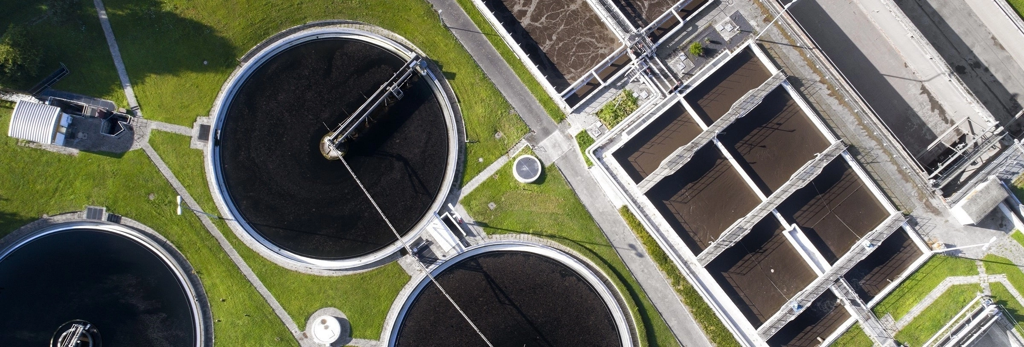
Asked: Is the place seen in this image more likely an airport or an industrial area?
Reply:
industrial area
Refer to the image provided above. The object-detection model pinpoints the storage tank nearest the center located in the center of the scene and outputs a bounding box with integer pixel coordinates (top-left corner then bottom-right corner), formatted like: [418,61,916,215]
[513,155,541,183]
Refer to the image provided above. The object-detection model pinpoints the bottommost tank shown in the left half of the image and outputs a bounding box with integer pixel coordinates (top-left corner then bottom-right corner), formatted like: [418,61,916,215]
[311,315,342,347]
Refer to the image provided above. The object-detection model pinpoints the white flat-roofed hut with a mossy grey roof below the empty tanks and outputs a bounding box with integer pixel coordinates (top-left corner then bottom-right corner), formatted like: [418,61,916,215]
[953,175,1009,226]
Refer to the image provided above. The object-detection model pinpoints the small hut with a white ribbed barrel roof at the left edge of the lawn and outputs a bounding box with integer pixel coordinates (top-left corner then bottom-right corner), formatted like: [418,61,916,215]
[7,100,82,149]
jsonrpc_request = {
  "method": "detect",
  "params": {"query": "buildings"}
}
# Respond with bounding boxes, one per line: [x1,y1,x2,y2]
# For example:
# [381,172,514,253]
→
[953,175,1009,226]
[7,100,82,149]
